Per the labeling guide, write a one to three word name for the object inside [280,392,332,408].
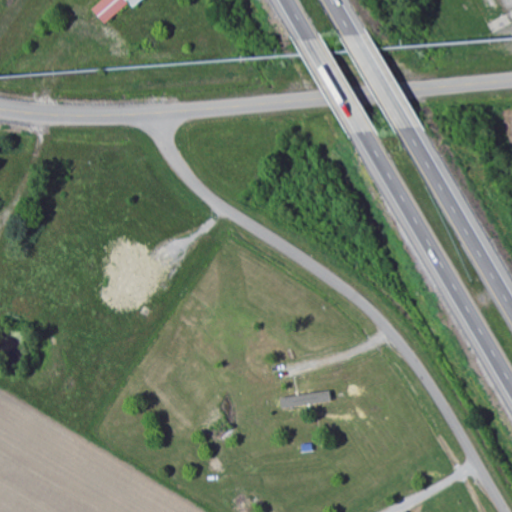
house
